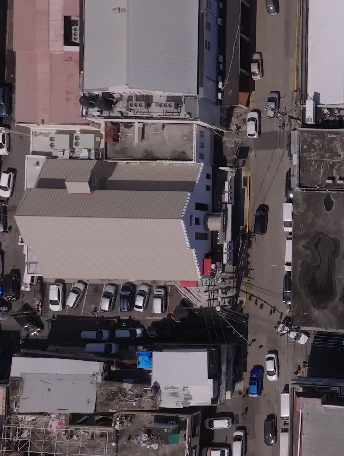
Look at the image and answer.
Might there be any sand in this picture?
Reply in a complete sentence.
No, no sand is visible.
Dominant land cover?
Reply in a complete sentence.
For the most part, this view shows buildings.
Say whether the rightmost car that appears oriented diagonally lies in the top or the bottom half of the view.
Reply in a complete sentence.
The rightmost car that appears oriented diagonally sits in the bottom half of the picture.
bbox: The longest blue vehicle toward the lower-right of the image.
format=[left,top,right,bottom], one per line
[249,365,264,400]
